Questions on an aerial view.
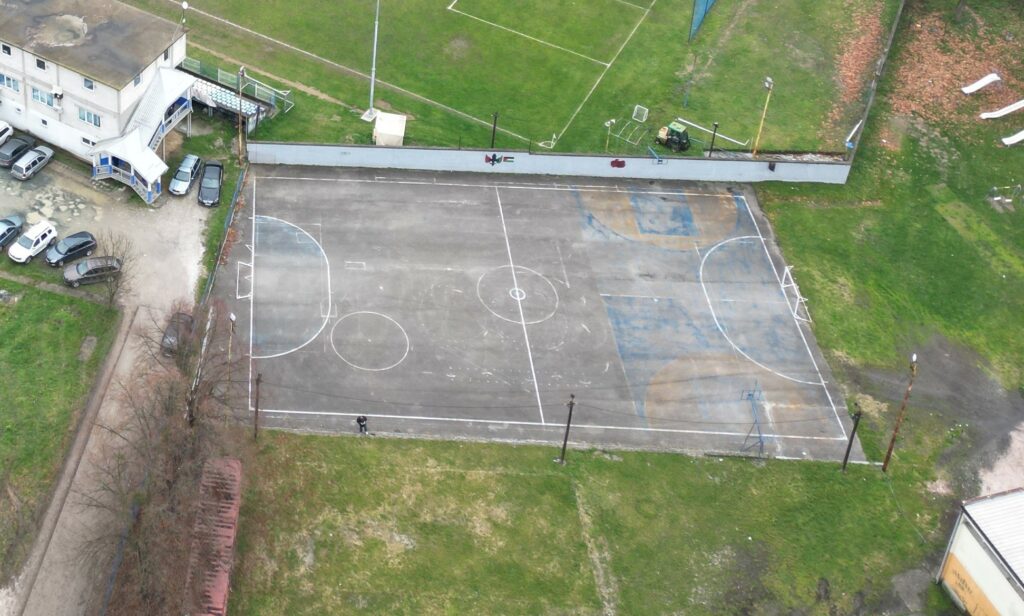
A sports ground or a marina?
sports ground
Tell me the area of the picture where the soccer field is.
top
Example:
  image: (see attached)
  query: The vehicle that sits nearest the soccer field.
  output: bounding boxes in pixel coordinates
[654,118,701,153]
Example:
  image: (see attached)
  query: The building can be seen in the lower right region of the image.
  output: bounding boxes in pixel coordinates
[931,480,1024,616]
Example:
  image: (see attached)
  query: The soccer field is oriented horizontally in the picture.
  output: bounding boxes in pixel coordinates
[144,0,665,150]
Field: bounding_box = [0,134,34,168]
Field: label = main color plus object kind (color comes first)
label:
gray car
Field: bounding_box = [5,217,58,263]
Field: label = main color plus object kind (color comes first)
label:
white car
